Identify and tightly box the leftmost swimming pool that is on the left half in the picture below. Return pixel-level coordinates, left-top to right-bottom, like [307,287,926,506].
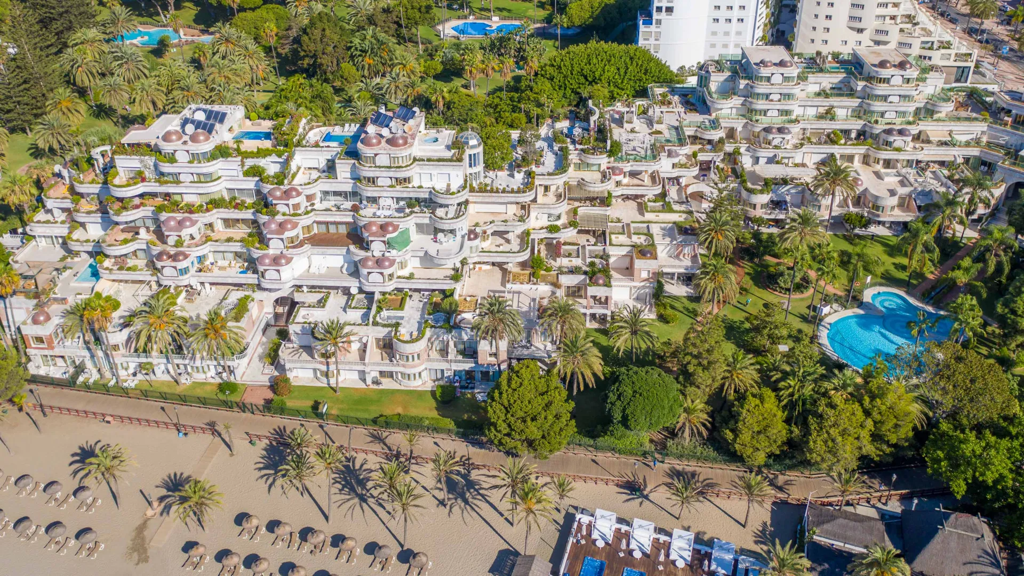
[72,263,102,285]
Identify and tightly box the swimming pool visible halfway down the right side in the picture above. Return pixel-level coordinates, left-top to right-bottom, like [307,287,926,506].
[818,286,970,385]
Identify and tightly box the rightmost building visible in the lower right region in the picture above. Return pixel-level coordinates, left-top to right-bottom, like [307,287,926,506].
[901,502,1009,576]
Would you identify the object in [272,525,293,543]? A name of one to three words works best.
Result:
umbrella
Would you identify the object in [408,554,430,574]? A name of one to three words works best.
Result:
umbrella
